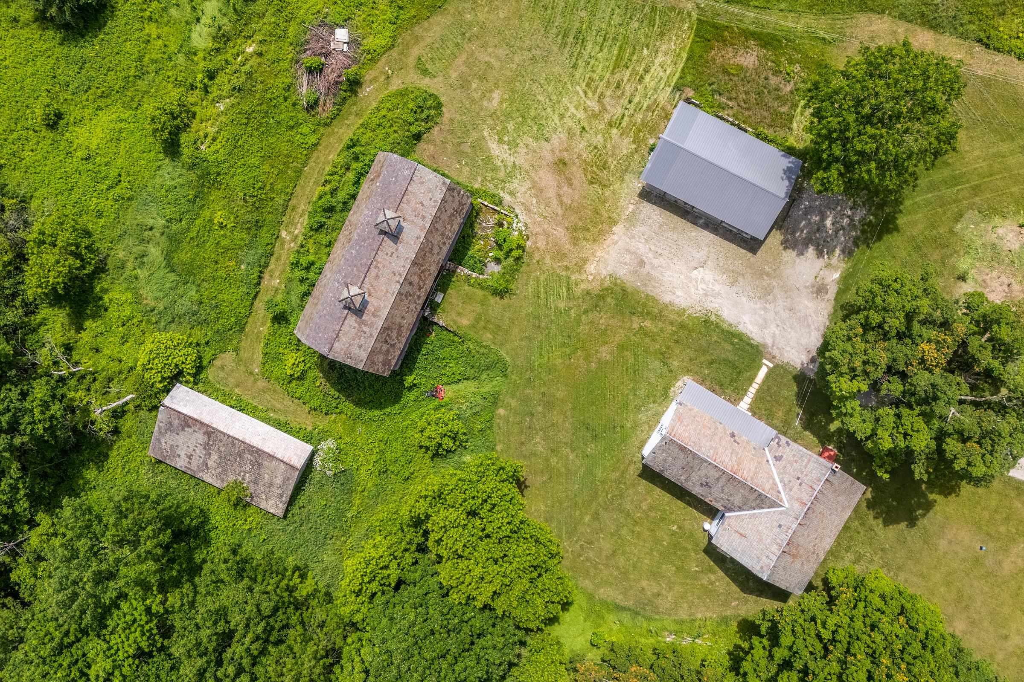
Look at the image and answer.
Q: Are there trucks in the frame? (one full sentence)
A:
No, there isn't any truck down there.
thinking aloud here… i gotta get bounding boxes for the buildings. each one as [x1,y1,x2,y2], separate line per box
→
[638,99,804,243]
[295,154,473,376]
[151,384,318,517]
[640,379,864,595]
